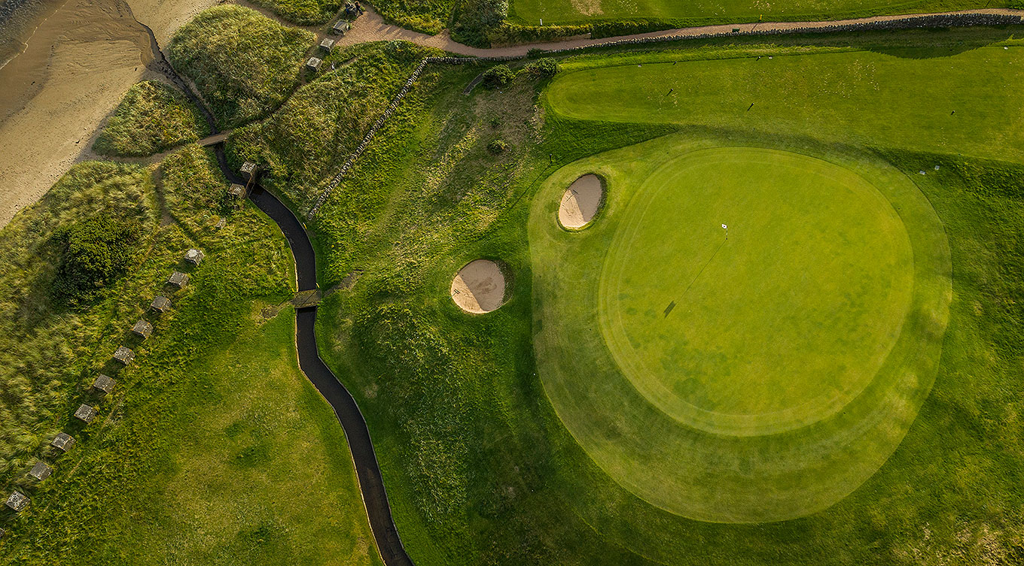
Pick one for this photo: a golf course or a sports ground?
golf course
